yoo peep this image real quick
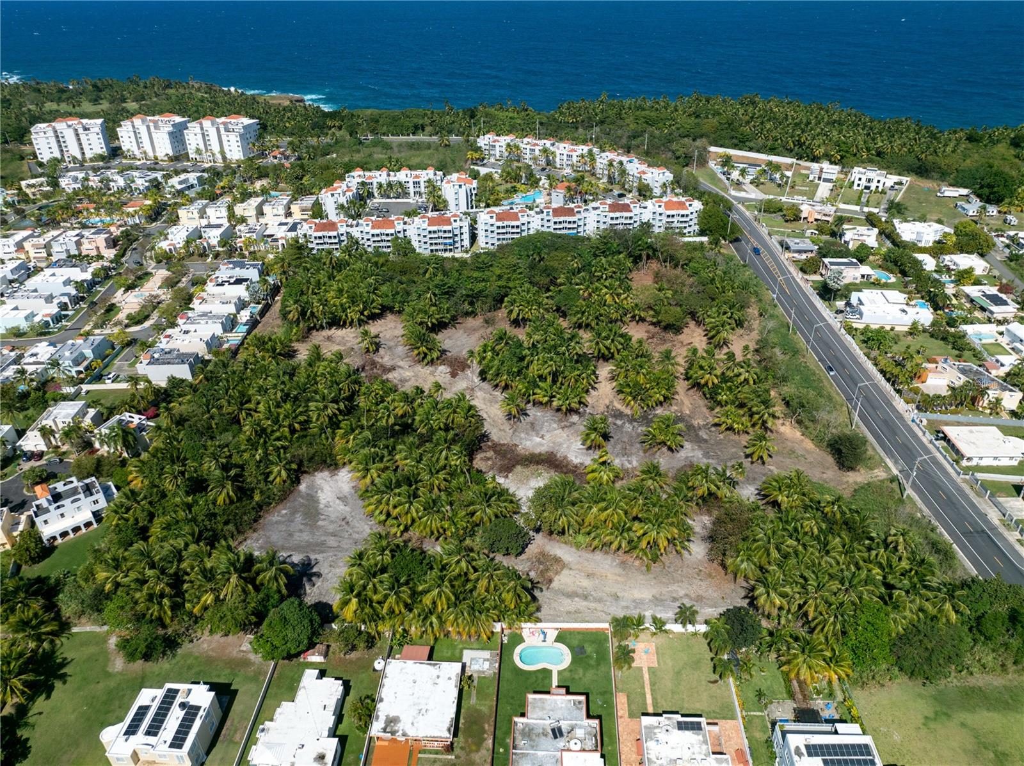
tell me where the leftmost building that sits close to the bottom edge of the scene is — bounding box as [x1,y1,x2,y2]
[98,678,222,766]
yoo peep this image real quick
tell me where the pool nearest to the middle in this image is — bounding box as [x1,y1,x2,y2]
[505,190,543,205]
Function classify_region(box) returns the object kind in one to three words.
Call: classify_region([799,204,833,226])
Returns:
house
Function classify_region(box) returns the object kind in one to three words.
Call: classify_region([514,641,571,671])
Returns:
swimming pool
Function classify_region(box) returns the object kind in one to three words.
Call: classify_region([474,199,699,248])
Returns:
building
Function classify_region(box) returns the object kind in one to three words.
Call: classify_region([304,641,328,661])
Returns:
shed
